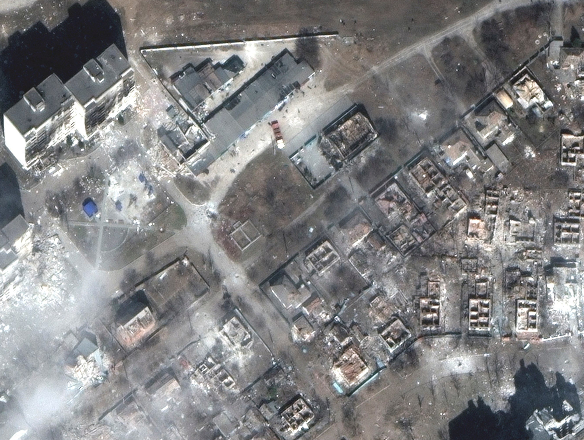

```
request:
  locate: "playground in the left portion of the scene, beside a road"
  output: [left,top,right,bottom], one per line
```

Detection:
[106,172,153,224]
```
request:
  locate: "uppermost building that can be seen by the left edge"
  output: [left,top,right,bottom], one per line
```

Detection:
[4,42,137,169]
